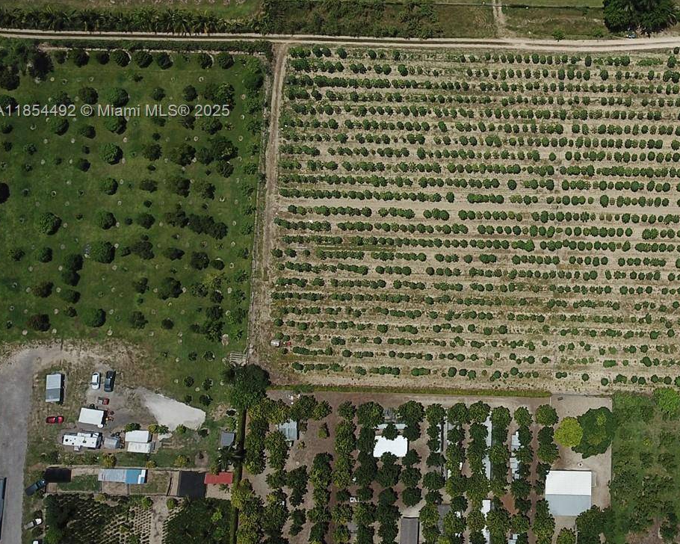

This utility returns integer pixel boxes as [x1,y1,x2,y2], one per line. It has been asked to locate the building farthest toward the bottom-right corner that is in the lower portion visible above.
[546,468,595,516]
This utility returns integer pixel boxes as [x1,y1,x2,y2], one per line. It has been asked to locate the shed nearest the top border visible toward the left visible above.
[43,372,67,402]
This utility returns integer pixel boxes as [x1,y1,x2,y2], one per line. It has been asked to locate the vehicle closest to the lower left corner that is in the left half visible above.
[22,516,43,532]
